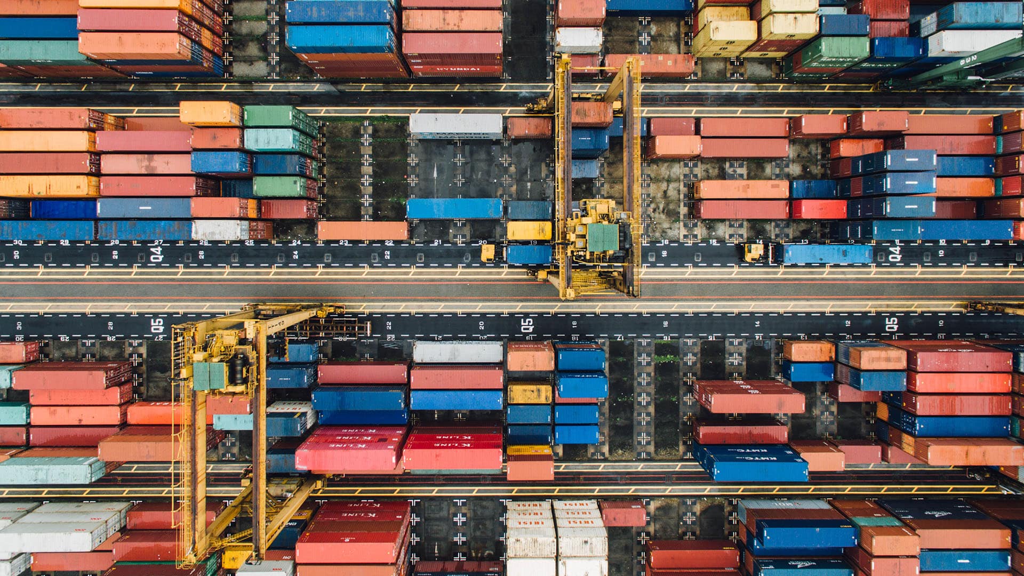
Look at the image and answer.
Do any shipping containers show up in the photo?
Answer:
Yes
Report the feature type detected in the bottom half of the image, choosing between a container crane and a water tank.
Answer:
container crane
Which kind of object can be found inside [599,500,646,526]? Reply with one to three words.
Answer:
shipping container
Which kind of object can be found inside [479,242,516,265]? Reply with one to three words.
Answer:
work vehicle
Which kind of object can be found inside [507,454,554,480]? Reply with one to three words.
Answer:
shipping container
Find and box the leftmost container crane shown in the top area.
[524,54,646,303]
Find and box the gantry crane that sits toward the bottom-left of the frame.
[172,299,345,561]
